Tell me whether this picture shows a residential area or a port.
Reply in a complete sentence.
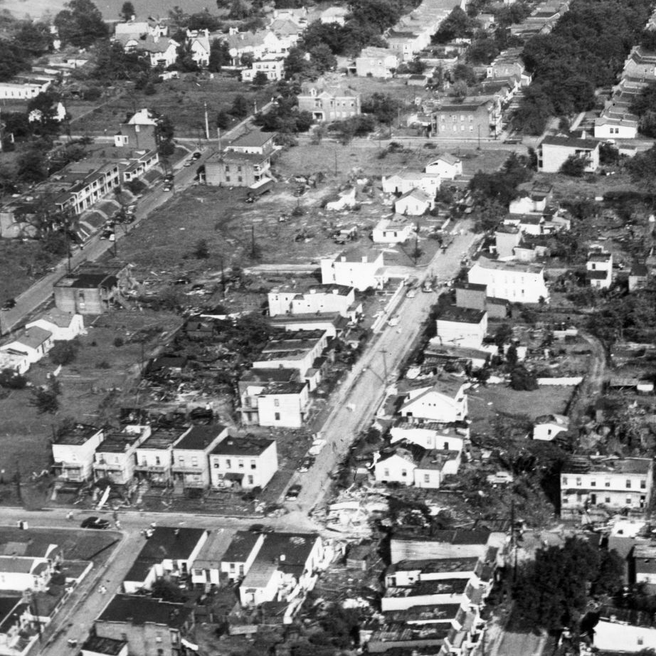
This looks like a residential area.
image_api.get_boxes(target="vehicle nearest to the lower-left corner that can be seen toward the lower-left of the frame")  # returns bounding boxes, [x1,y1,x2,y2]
[81,516,110,528]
